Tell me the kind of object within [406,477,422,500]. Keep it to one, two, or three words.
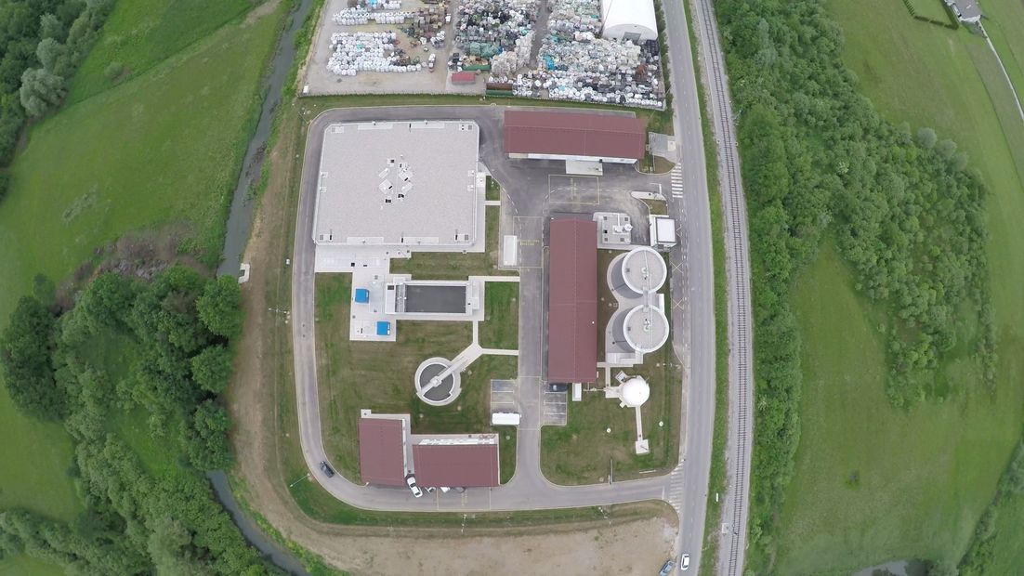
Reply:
car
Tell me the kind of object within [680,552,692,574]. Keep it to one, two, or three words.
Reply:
vehicle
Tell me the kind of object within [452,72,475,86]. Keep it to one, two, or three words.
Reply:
shed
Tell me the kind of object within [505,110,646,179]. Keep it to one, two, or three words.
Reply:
building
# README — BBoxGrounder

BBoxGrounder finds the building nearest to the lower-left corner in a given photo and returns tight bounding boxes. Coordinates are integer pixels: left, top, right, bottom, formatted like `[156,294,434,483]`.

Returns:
[360,418,407,489]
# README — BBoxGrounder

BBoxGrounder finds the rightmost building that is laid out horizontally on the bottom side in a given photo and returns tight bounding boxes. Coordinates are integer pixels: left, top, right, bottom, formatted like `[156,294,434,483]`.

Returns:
[605,352,643,365]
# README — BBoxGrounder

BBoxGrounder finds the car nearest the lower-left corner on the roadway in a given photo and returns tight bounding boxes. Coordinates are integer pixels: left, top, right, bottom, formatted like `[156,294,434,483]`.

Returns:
[317,460,335,481]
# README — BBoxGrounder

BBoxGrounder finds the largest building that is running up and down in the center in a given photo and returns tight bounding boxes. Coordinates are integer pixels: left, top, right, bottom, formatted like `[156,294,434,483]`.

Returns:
[548,218,597,382]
